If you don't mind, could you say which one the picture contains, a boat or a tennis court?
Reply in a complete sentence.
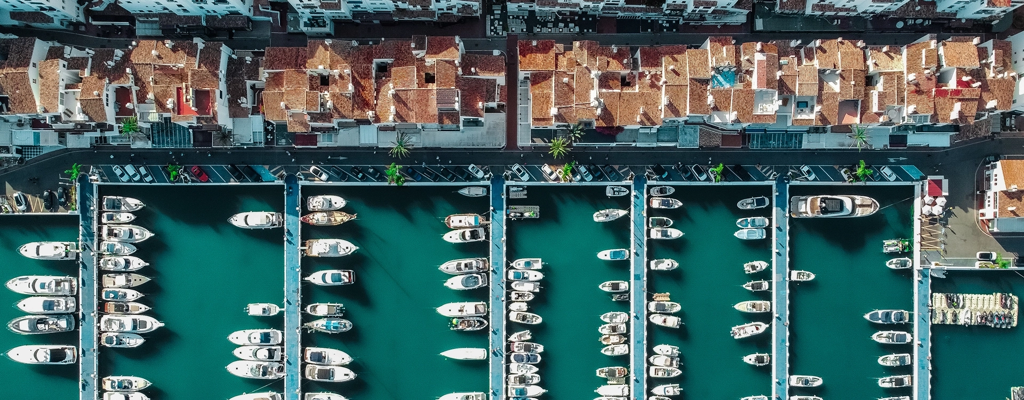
There is a boat in the scene.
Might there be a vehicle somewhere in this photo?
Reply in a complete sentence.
Yes, I can see a vehicle in this picture.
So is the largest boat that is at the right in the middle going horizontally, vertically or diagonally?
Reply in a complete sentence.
I'd say the largest boat that is at the right in the middle is aligned horizontally in the picture.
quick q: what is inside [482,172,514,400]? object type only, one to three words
pier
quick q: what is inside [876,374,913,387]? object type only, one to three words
boat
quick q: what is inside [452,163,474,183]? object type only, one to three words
car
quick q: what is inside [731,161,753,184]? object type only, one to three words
car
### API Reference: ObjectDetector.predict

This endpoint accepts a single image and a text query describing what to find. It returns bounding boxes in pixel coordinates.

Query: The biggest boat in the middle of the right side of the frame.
[789,188,918,219]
